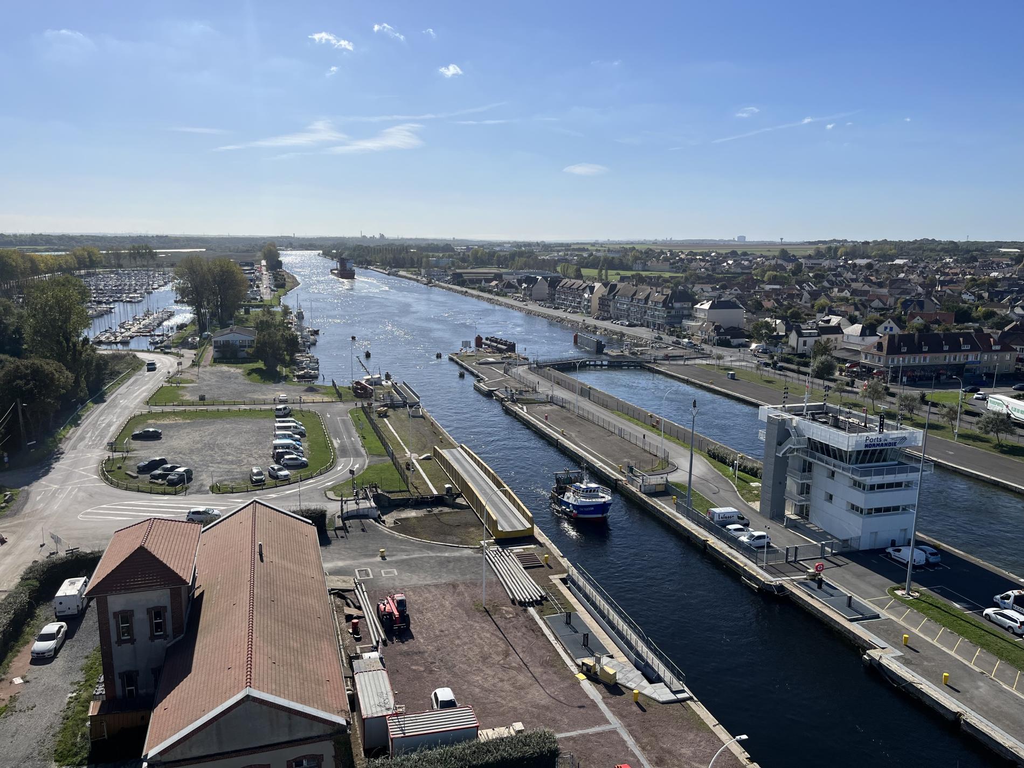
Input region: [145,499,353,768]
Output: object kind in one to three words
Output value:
building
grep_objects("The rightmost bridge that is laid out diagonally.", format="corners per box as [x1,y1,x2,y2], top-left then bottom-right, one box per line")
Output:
[431,444,539,538]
